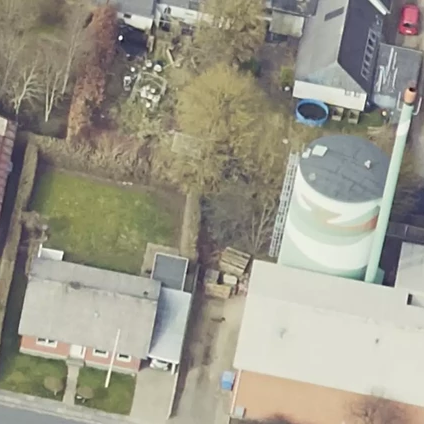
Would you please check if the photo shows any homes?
Yes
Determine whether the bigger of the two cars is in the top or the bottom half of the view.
top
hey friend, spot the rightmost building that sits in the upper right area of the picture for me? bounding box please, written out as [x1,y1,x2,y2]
[365,43,424,125]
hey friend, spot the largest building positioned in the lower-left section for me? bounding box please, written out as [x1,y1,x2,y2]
[19,257,161,372]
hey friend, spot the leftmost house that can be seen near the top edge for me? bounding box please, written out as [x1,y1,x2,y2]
[117,0,158,39]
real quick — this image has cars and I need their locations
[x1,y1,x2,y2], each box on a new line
[148,357,168,370]
[398,6,420,39]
